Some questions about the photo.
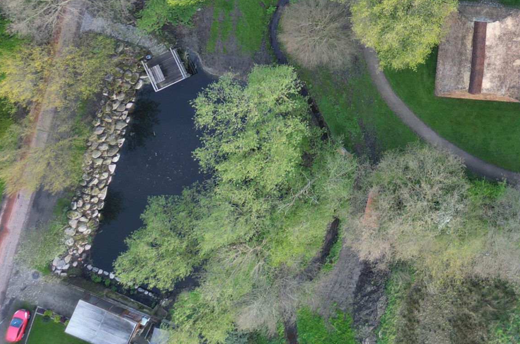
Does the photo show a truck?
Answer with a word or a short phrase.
No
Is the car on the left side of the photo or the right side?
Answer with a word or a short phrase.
left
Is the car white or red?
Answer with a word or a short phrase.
red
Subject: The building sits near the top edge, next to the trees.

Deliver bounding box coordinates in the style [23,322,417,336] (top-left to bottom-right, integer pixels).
[435,3,520,101]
